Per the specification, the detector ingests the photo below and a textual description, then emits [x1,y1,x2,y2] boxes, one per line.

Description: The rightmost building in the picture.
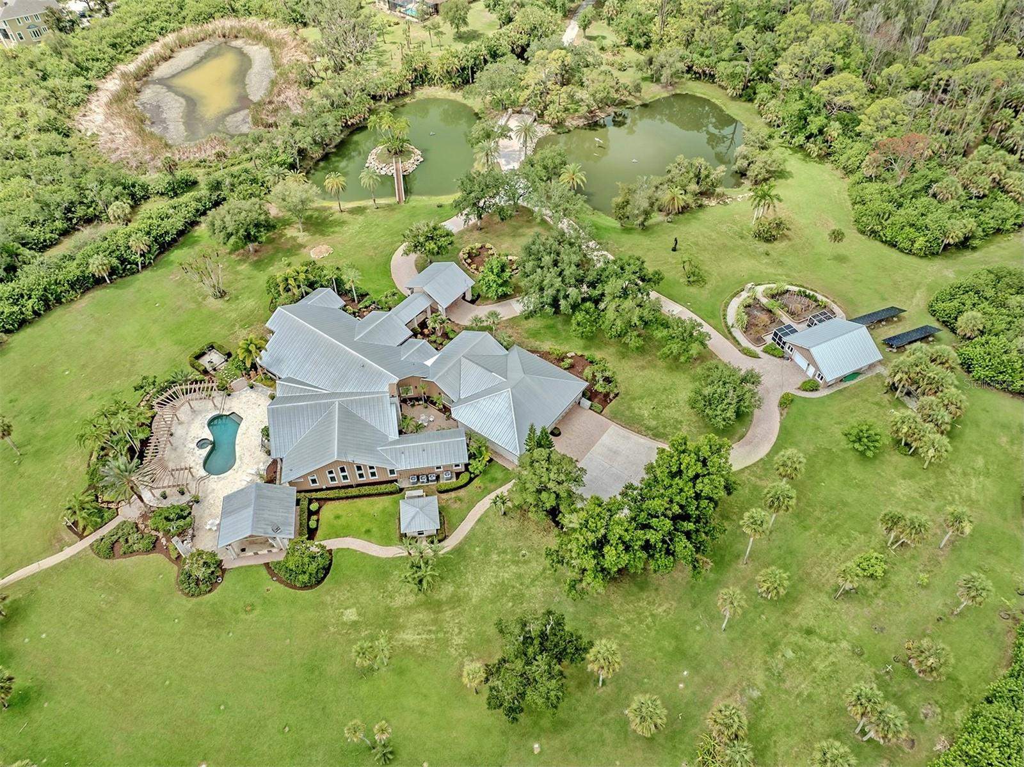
[783,318,882,393]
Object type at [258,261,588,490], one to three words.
house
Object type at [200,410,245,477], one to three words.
swimming pool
